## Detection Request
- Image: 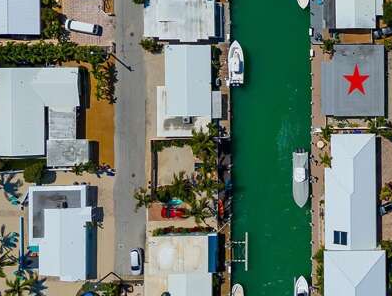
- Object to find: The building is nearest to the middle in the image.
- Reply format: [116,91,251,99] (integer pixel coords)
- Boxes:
[157,45,223,138]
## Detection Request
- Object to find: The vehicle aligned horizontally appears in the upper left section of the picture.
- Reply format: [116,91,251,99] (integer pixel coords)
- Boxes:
[66,19,104,37]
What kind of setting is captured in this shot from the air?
residential area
